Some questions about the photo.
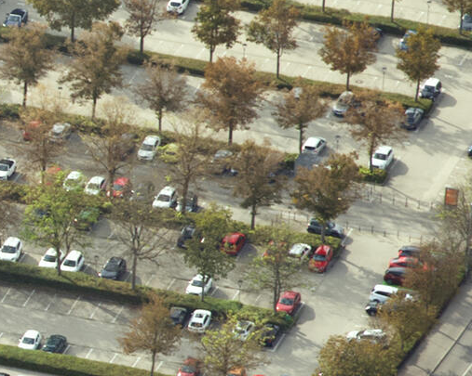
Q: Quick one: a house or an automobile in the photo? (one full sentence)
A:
The image shows an automobile.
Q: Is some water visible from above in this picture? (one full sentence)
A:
No, the scene doesn't show any water.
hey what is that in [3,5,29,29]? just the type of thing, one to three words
car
